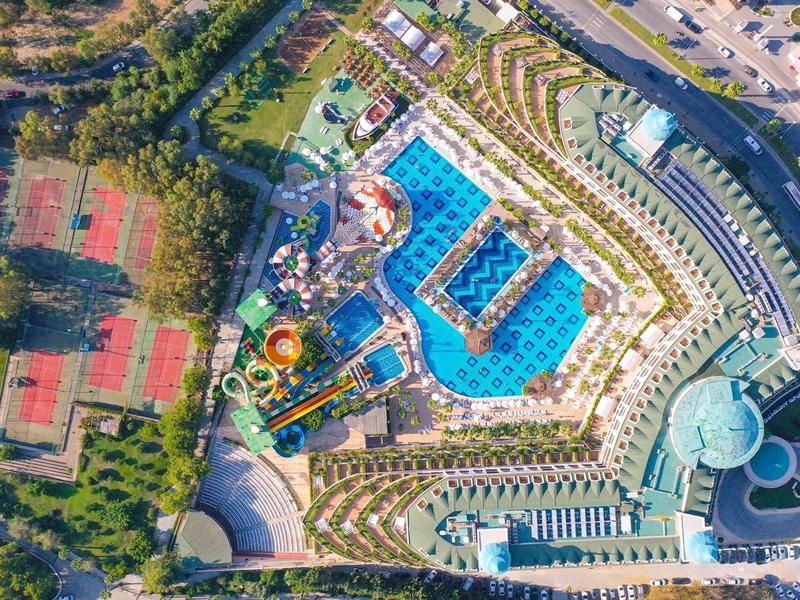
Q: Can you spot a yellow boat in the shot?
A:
No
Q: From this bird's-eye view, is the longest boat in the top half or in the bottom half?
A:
top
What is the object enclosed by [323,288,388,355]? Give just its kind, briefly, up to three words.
swimming pool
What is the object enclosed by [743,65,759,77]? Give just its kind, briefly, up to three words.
vehicle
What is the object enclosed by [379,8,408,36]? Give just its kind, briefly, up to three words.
tent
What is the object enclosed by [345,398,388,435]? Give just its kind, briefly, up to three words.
shed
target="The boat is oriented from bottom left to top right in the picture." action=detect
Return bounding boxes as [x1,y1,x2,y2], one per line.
[355,88,399,140]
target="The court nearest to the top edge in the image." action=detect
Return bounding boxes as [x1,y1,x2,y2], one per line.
[280,17,330,71]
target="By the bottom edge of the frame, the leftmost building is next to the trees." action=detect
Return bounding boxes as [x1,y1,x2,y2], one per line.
[176,511,234,571]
